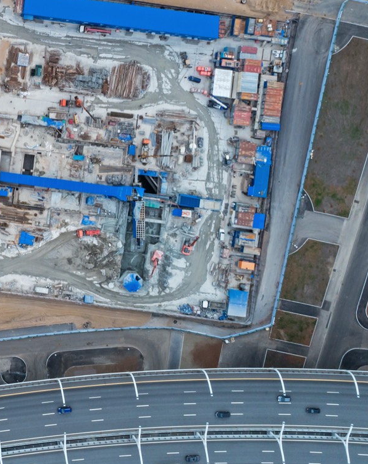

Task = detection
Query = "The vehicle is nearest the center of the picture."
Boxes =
[179,235,204,258]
